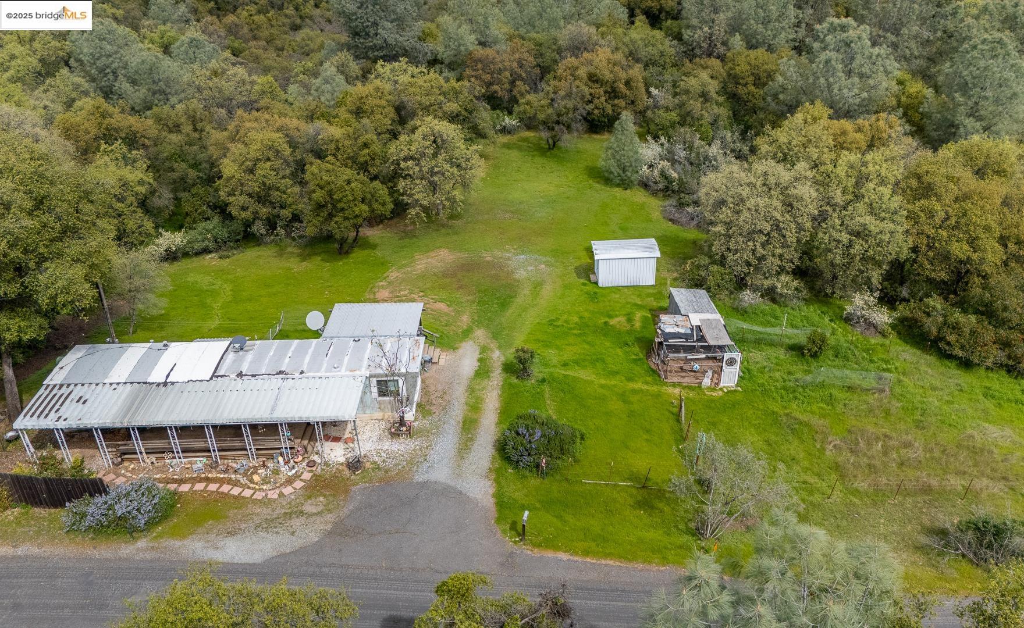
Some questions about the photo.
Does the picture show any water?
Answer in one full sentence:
No, there's no water in this view.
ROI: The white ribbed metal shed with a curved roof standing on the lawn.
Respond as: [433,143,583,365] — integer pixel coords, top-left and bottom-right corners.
[592,236,662,285]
